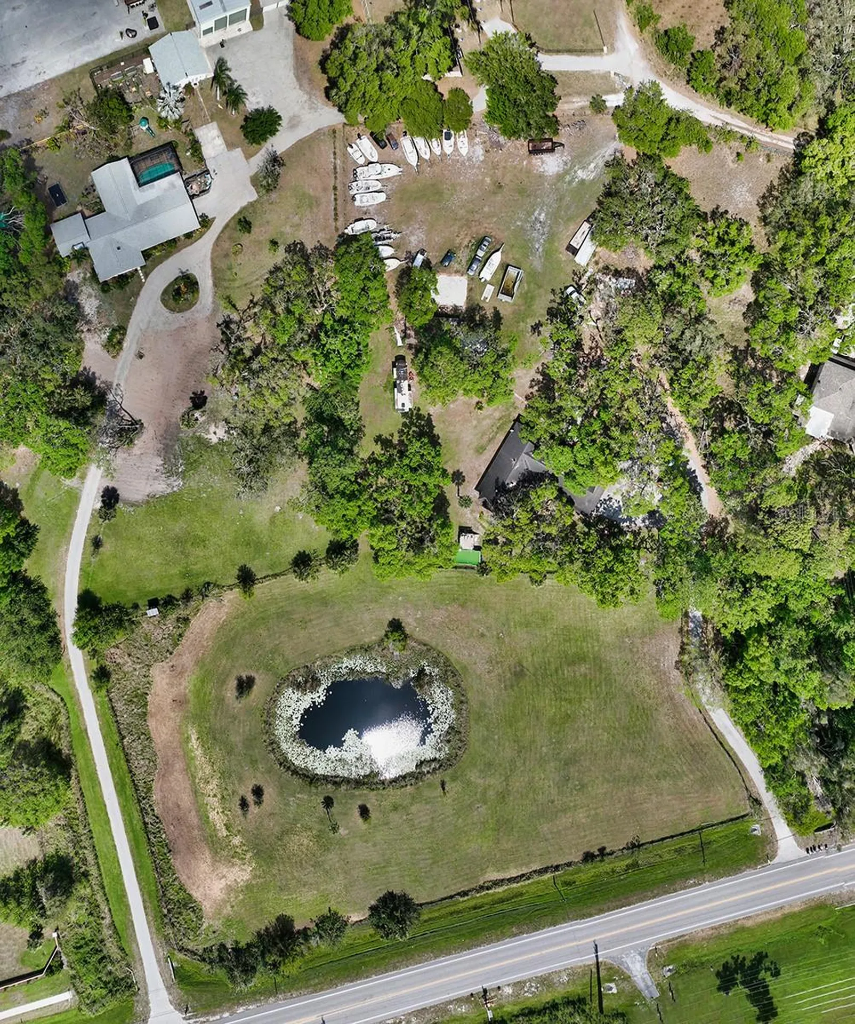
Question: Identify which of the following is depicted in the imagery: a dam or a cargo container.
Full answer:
The one in the frame is a cargo container.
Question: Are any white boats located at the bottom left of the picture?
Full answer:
No, there is no white boat at the bottom left of the picture.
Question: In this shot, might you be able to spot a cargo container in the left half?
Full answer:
No, the scene shows no cargo container in the left half.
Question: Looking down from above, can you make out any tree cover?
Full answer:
Yes, there is tree cover in the image.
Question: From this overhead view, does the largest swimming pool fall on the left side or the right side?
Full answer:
The largest swimming pool appears in the left half of the scene.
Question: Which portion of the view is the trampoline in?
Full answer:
The trampoline is in the top left part of the image.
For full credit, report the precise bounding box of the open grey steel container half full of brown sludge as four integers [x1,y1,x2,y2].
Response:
[496,266,523,303]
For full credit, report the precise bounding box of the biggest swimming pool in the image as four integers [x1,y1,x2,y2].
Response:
[130,143,182,185]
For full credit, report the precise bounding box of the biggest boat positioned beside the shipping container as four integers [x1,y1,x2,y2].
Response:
[477,252,500,283]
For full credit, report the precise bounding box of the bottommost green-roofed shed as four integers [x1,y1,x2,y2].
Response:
[454,551,481,566]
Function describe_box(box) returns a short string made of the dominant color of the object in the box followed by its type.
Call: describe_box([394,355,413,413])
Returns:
white camper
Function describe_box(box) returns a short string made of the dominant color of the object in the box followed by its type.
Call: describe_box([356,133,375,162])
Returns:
white boat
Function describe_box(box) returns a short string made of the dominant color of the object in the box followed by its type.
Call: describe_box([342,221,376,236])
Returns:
white boat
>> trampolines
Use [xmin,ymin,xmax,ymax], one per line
[47,183,69,207]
